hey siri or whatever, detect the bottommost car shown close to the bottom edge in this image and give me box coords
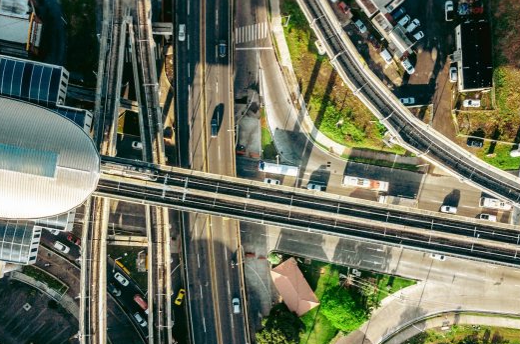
[133,313,146,328]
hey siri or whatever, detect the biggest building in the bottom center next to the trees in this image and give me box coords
[272,258,320,316]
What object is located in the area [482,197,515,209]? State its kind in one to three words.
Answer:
vehicle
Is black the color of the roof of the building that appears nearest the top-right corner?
Yes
